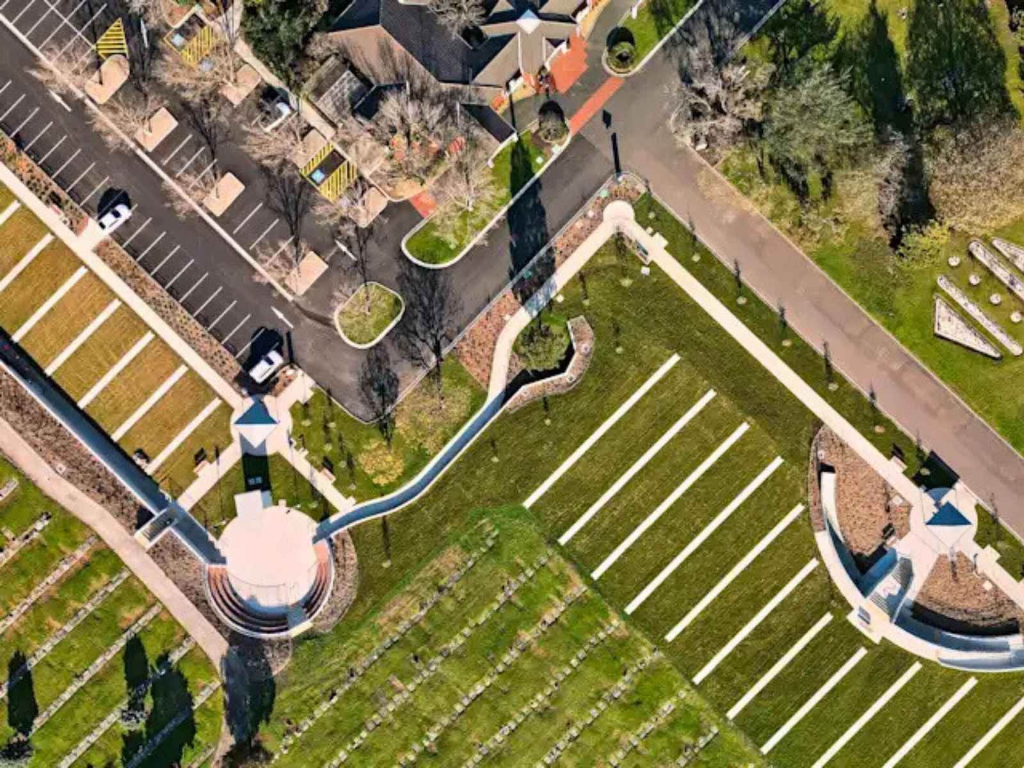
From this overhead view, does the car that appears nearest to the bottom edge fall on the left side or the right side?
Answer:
left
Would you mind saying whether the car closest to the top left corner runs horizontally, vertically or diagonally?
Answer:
diagonally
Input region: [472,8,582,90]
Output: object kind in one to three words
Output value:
building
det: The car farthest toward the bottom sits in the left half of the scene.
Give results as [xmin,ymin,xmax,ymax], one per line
[245,349,284,384]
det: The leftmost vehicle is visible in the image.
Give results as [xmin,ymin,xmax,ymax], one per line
[95,201,134,235]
